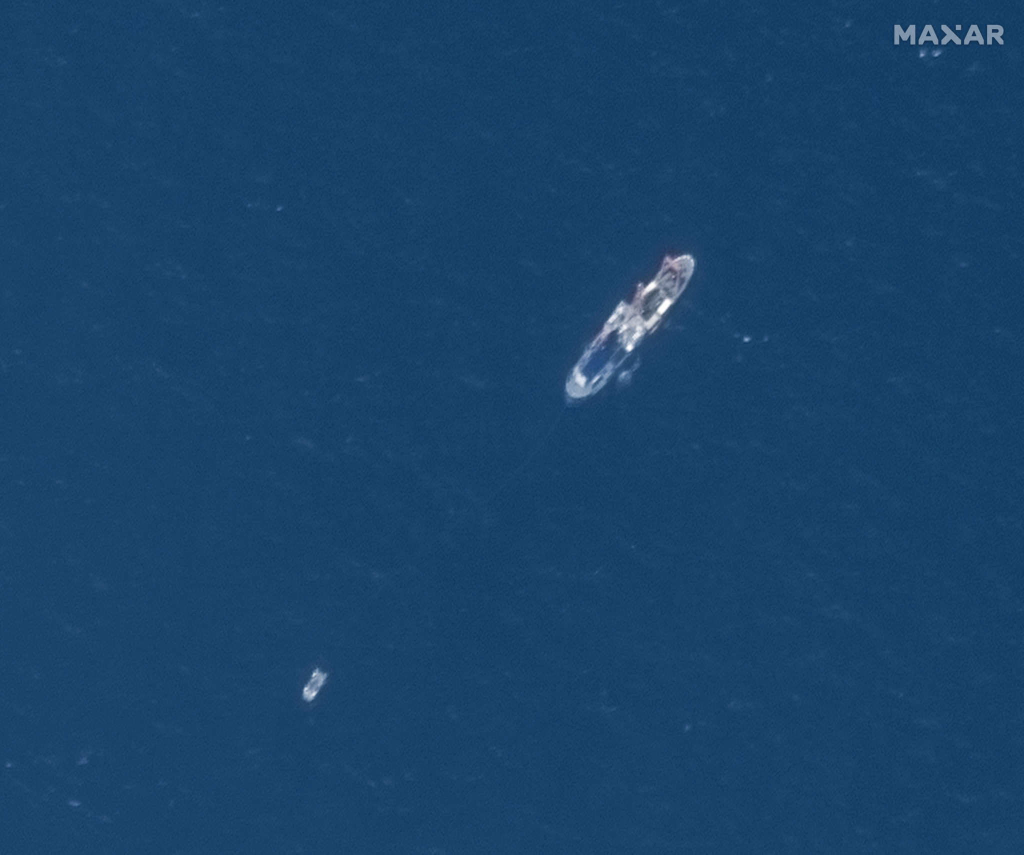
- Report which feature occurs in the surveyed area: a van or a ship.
ship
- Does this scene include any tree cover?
No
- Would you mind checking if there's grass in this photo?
No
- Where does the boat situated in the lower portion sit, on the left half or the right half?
left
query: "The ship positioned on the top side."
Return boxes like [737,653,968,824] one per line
[566,254,694,398]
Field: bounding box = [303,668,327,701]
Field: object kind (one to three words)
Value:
boat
